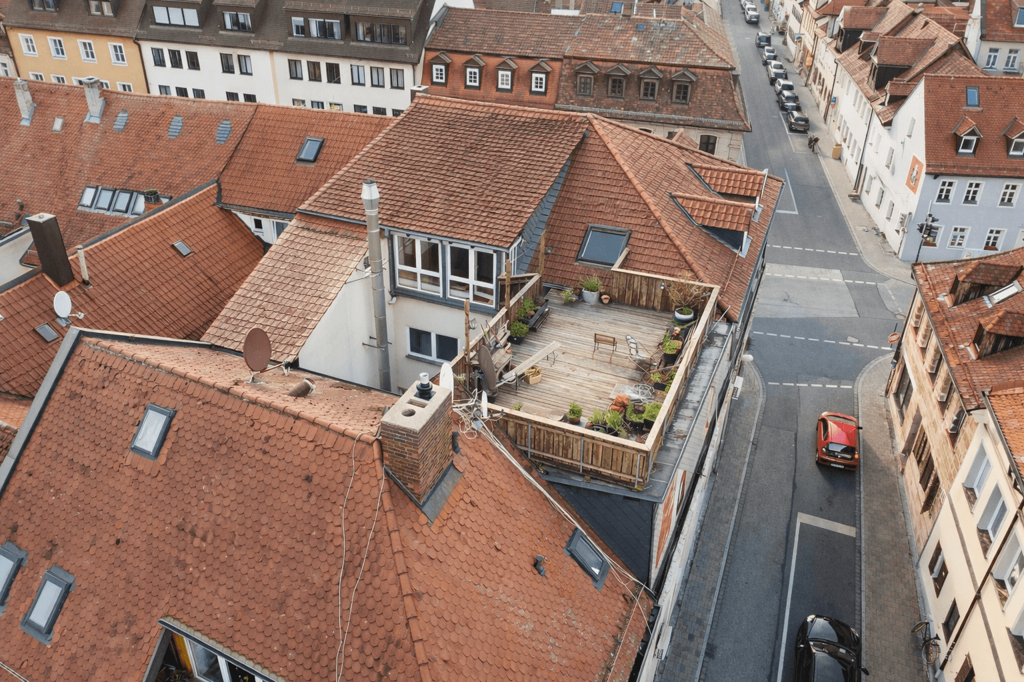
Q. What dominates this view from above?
buildings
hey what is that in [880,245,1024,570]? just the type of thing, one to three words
house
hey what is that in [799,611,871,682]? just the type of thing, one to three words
car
